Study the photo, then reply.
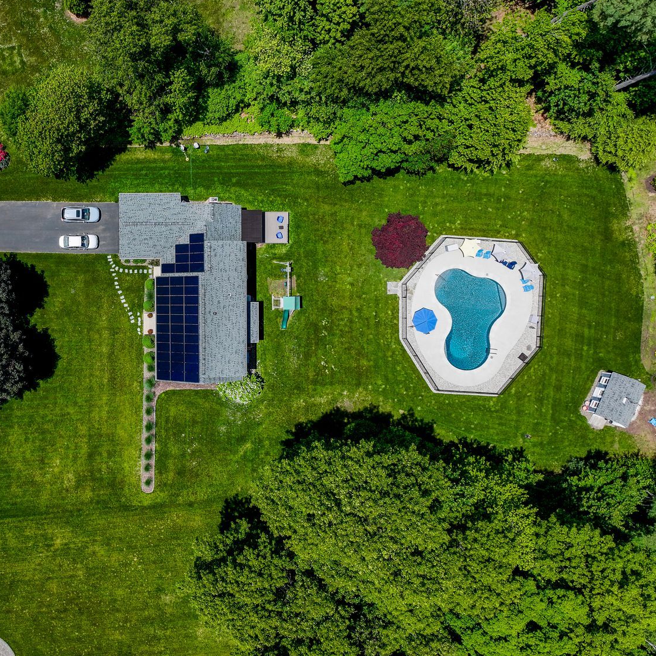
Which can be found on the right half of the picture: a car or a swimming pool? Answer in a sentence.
Looking on the right half of the picture, you will find a swimming pool.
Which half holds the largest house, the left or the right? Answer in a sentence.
The largest house sits on the left side.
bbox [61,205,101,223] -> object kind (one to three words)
car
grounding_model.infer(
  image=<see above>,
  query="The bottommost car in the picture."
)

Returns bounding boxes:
[59,231,99,250]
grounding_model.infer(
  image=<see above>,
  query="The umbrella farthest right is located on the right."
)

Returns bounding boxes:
[519,261,540,284]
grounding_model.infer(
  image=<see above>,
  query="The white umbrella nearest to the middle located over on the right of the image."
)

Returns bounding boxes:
[458,238,480,257]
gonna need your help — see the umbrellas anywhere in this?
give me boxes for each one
[406,308,436,333]
[491,240,514,263]
[519,261,540,284]
[458,238,480,257]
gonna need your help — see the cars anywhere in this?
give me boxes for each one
[61,205,101,223]
[59,231,99,250]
